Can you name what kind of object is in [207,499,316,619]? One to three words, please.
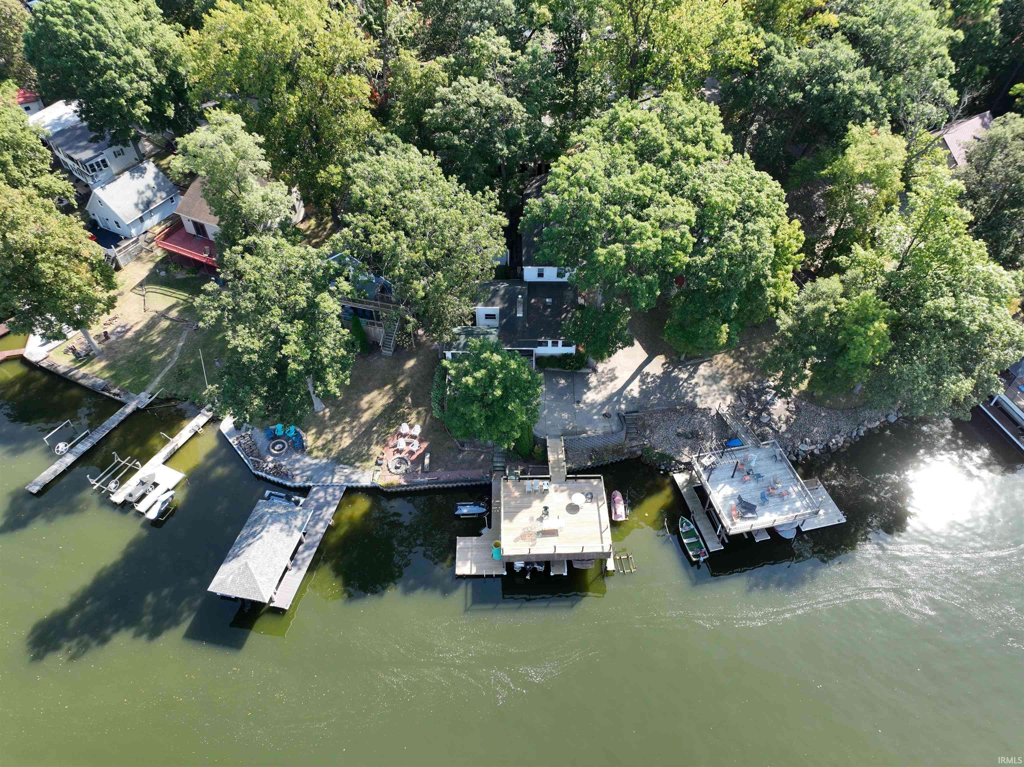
building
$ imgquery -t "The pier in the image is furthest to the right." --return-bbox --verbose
[797,482,854,536]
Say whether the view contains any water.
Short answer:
Yes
